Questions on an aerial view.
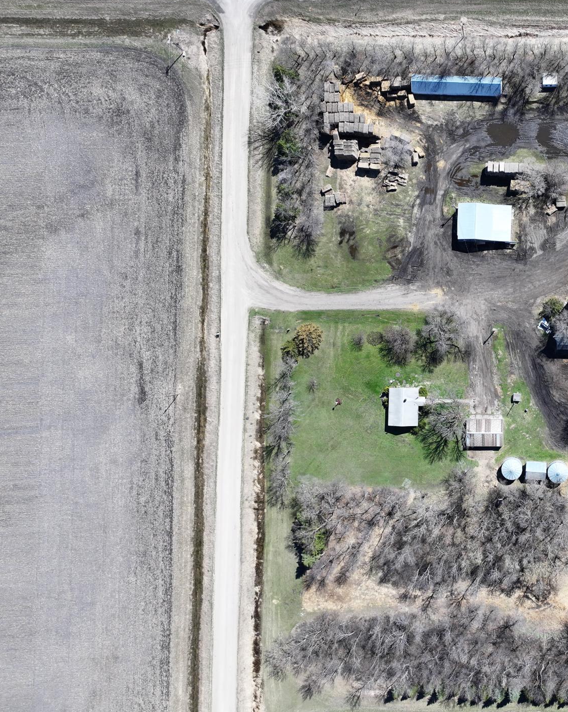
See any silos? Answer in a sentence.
Yes, a silo is visible in the scene.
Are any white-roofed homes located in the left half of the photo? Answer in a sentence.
No, in the left half of the photo there is no white-roofed home.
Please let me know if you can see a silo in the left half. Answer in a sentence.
No, looking in the left half, there is no silo.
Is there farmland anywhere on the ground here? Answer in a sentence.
Yes, farmland shows up in the scene.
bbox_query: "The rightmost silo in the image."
[547,459,568,481]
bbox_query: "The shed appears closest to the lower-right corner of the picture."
[526,460,546,480]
